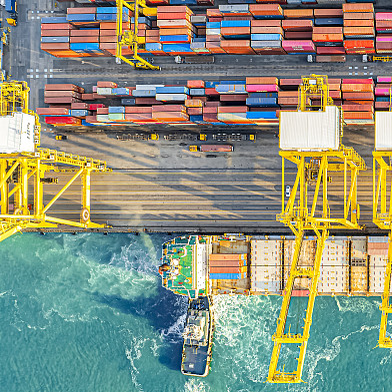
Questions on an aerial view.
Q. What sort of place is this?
port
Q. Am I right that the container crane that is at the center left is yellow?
Yes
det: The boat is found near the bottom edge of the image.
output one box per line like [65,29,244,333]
[180,298,212,377]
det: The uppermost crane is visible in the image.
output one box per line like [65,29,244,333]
[114,0,160,71]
